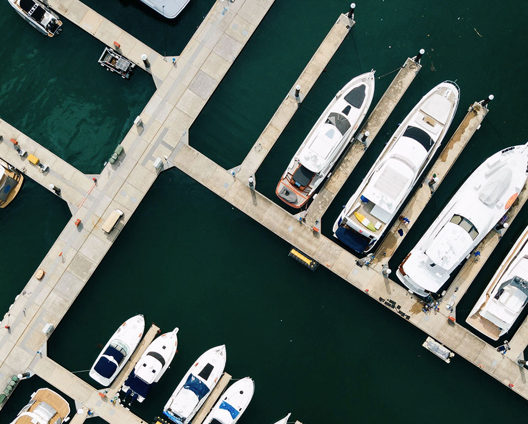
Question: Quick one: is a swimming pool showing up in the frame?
No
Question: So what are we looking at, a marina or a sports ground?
marina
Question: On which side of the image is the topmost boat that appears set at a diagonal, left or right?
left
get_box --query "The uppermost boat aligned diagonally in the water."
[7,0,64,40]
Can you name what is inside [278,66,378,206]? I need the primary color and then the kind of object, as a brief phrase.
white boat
